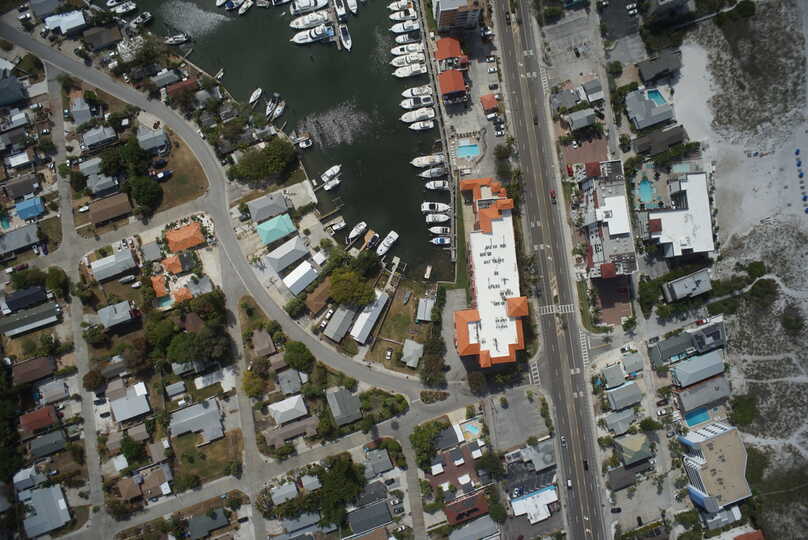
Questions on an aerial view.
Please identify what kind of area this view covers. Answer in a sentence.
This looks like a residential area.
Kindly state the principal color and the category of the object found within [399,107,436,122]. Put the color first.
white boat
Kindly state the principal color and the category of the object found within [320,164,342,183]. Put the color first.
white boat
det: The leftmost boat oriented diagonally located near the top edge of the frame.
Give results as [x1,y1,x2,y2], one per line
[128,11,155,31]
